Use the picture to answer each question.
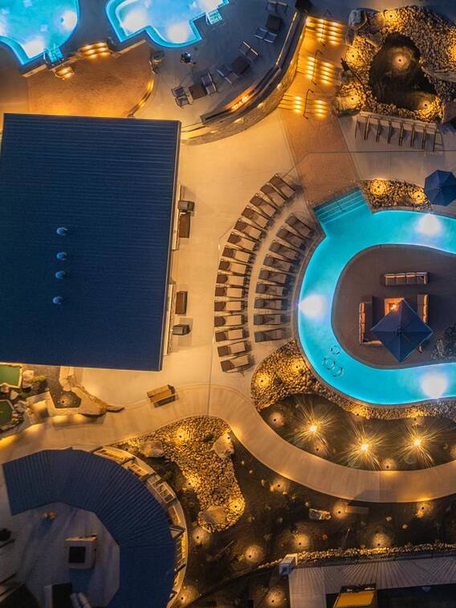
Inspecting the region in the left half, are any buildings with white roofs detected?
No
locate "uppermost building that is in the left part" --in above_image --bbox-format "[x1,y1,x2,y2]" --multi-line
[0,113,187,371]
